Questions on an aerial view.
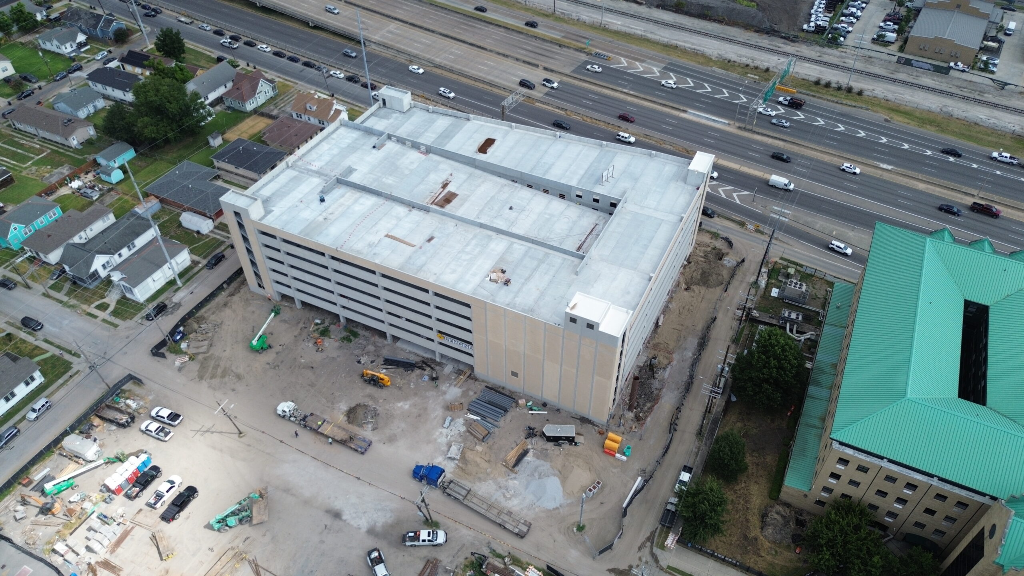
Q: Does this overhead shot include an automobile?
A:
Yes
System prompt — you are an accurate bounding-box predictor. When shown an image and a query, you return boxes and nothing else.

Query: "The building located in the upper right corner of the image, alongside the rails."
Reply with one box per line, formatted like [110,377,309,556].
[893,0,1009,66]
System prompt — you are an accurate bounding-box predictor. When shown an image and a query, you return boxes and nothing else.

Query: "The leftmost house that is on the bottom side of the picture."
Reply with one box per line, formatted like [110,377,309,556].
[0,351,45,419]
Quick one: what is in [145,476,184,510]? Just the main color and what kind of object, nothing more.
white truck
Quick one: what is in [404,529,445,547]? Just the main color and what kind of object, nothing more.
white vehicle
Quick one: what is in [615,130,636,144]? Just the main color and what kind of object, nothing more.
white car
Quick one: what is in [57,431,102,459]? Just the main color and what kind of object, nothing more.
white trailer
